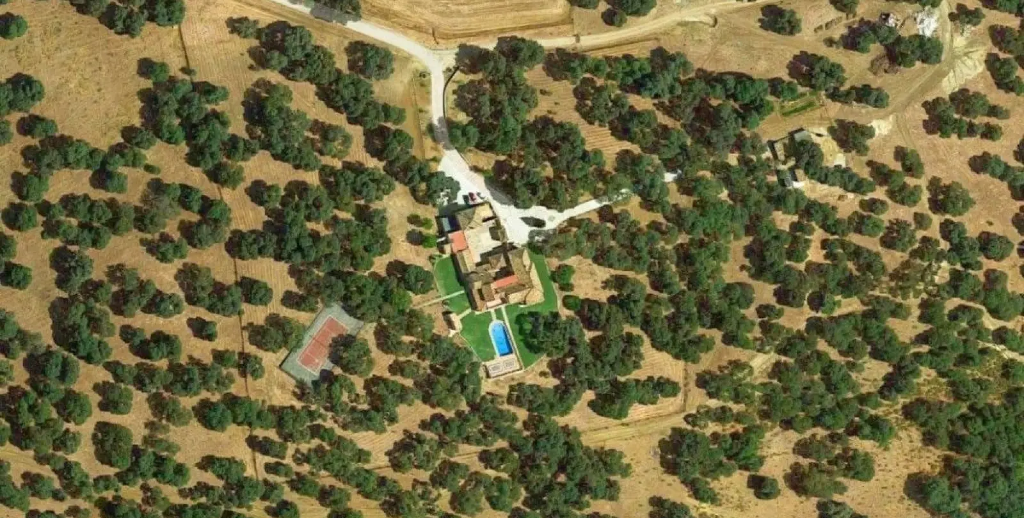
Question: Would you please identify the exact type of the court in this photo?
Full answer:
I'd identify the court as a tennis court.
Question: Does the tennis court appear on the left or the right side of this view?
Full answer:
The tennis court appears in the left half of the scene.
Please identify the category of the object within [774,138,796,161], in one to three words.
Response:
barn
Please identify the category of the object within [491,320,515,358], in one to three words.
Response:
swimming pool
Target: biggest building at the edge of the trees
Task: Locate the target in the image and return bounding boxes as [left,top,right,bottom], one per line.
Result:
[442,202,534,311]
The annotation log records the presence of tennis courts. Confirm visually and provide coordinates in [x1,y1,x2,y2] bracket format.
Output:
[280,301,363,383]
